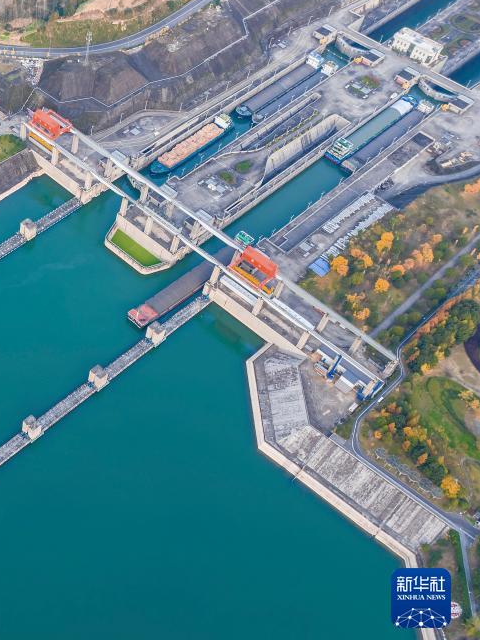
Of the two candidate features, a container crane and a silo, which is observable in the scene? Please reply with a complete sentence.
Of the two, only a container crane appears.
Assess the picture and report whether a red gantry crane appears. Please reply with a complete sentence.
Yes, a red gantry crane is visible in the scene.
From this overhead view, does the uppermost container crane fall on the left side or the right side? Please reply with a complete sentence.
The uppermost container crane is on the left side of the image.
